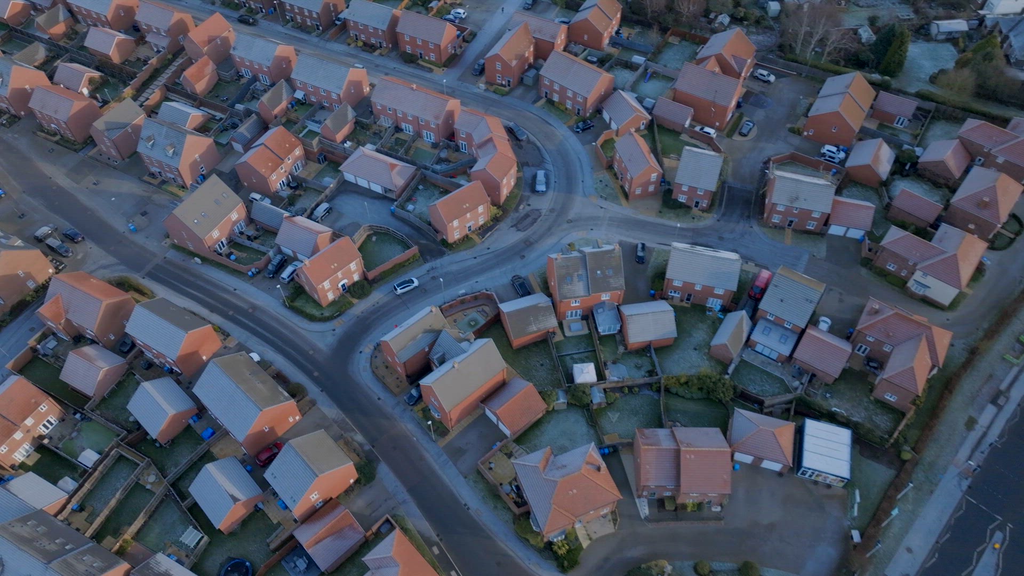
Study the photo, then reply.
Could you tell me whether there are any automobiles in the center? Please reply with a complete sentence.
Yes, the scene does show an automobile in the center.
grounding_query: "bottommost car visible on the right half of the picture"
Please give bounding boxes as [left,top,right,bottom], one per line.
[817,314,832,335]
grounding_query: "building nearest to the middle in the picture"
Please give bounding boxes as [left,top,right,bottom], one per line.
[497,292,558,348]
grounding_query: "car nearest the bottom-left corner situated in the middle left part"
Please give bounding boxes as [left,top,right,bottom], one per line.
[116,333,135,356]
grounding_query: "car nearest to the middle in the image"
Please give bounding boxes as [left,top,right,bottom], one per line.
[511,273,531,294]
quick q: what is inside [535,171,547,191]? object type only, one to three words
vehicle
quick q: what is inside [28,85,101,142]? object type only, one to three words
house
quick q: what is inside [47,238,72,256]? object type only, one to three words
car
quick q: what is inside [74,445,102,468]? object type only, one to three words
shed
